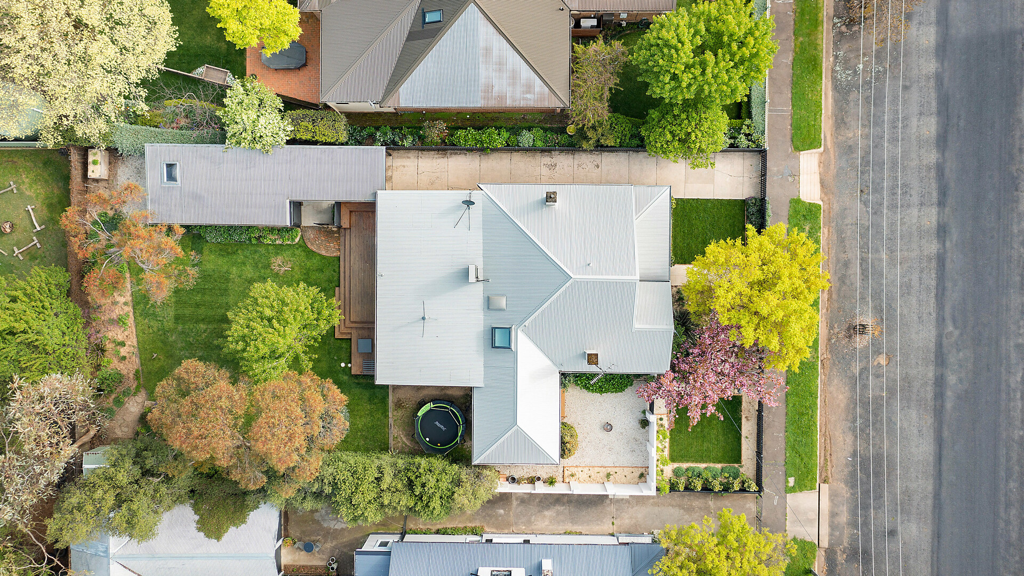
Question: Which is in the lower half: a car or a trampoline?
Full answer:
The feature located in the lower half is a trampoline.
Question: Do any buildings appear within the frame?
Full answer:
Yes, there's a building here.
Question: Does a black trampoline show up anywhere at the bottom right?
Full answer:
No, I see no black trampoline at the bottom right.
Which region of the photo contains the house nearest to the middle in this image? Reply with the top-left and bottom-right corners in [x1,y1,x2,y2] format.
[374,182,674,466]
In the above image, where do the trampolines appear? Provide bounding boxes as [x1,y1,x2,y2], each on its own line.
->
[416,402,465,452]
